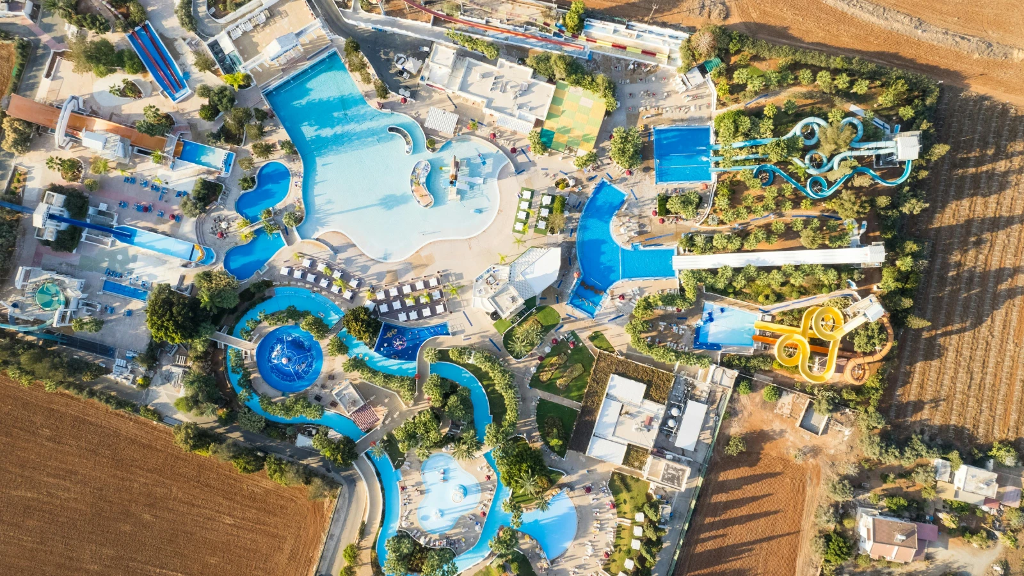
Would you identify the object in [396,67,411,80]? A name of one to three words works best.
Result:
vehicle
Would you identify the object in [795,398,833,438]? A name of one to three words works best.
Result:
shed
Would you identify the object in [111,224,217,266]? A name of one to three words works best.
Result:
swimming pool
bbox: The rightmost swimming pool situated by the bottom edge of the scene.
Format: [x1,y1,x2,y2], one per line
[505,488,578,561]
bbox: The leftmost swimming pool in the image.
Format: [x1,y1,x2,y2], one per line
[43,328,119,360]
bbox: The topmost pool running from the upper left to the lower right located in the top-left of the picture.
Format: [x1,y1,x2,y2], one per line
[127,22,188,101]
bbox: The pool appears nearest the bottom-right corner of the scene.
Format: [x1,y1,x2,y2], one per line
[693,300,759,351]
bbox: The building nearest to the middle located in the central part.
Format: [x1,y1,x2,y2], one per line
[473,264,529,323]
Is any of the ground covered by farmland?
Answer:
Yes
